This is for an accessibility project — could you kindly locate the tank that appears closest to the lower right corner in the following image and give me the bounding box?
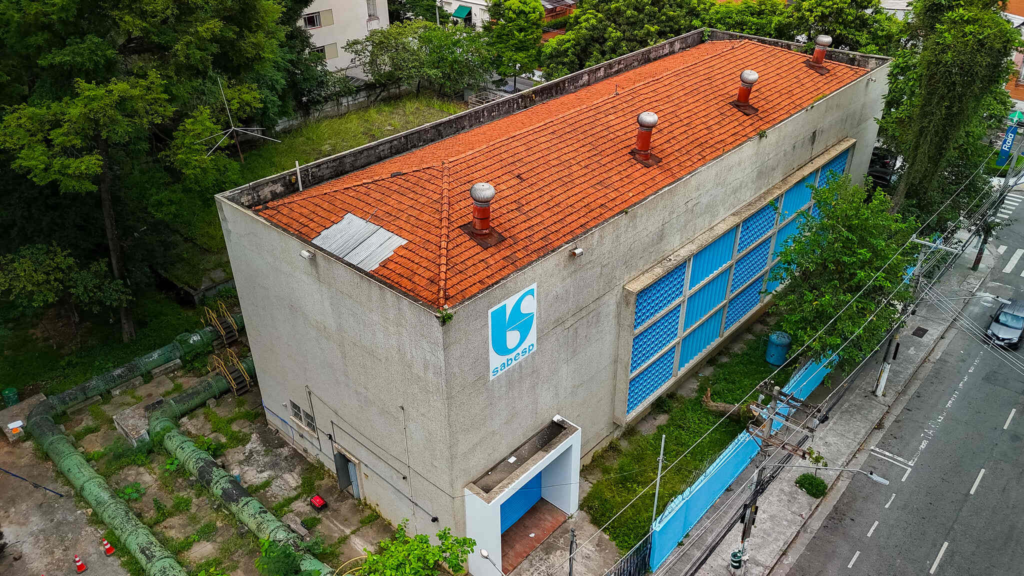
[766,326,795,368]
